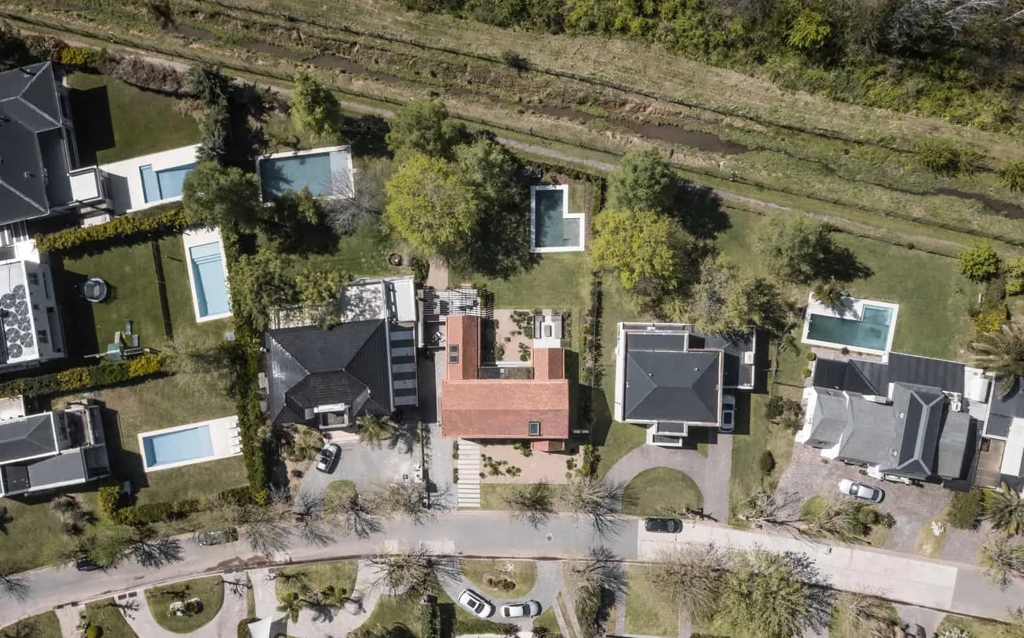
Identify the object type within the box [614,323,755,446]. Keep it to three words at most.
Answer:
house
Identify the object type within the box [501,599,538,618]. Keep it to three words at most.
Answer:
car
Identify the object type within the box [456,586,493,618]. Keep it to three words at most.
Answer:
car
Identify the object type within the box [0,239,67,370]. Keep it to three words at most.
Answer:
house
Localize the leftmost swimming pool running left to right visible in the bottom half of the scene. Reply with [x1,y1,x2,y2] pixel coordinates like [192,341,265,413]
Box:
[138,415,244,472]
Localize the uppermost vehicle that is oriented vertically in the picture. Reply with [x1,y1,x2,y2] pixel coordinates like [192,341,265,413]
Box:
[719,396,737,433]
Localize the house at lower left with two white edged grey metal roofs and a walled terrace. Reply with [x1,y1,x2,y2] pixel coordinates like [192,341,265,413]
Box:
[0,394,112,497]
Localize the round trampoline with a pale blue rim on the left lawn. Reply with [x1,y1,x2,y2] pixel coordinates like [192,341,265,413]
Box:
[83,278,111,301]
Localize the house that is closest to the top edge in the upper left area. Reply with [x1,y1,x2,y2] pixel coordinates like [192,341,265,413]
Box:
[0,61,117,231]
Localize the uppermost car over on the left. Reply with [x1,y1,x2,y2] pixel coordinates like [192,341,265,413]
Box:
[316,441,341,473]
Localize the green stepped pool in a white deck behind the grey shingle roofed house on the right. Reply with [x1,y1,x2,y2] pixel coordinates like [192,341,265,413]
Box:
[801,292,899,355]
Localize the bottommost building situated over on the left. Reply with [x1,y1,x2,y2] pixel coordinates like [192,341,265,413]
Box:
[249,608,293,638]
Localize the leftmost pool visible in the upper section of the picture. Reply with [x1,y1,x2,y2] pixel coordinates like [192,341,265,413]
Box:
[99,144,206,217]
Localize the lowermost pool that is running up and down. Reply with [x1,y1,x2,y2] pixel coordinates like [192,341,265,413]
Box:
[182,226,232,322]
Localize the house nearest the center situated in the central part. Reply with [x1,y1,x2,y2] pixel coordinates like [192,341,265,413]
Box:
[442,315,569,450]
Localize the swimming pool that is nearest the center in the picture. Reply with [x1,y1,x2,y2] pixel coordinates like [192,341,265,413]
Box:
[531,185,585,253]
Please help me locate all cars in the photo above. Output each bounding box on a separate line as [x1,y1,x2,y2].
[456,586,493,618]
[316,441,341,473]
[501,599,538,618]
[902,620,922,638]
[644,517,681,534]
[75,552,109,572]
[719,396,737,433]
[838,478,883,502]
